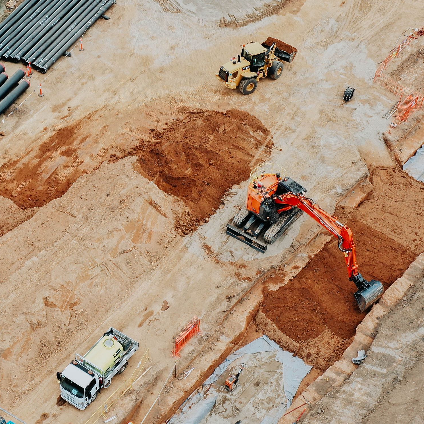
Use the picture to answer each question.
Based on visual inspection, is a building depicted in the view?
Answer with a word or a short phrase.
No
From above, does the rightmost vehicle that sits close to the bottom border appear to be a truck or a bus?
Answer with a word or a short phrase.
truck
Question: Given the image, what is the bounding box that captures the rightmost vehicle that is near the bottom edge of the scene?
[49,323,147,416]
